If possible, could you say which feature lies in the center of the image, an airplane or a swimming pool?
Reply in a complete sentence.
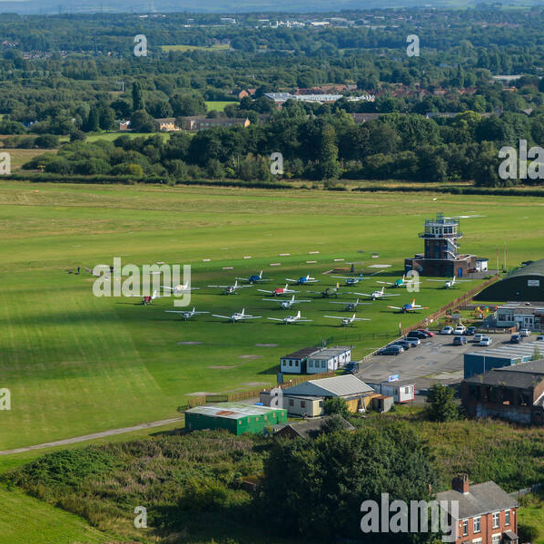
There is an airplane in the center of the image.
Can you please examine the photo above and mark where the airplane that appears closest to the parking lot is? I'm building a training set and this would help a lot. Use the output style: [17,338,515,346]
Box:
[385,300,430,315]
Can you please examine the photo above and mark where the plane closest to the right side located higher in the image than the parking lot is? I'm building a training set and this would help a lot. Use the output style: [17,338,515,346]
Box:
[430,274,468,289]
